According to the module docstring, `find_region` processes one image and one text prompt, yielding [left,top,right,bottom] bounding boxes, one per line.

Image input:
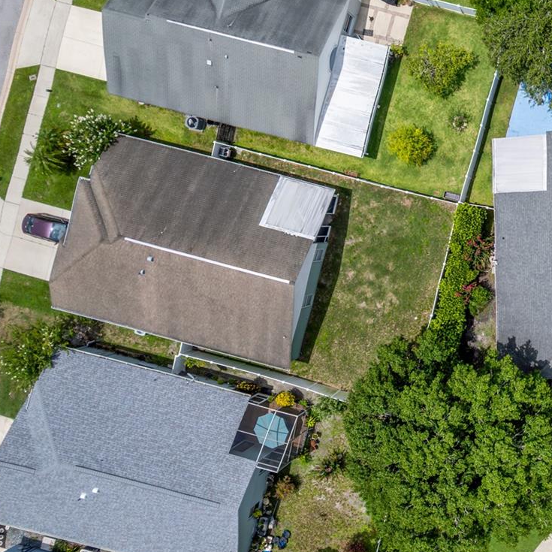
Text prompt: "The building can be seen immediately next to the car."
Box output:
[48,133,339,371]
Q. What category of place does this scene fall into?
residential area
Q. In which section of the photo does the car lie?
left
